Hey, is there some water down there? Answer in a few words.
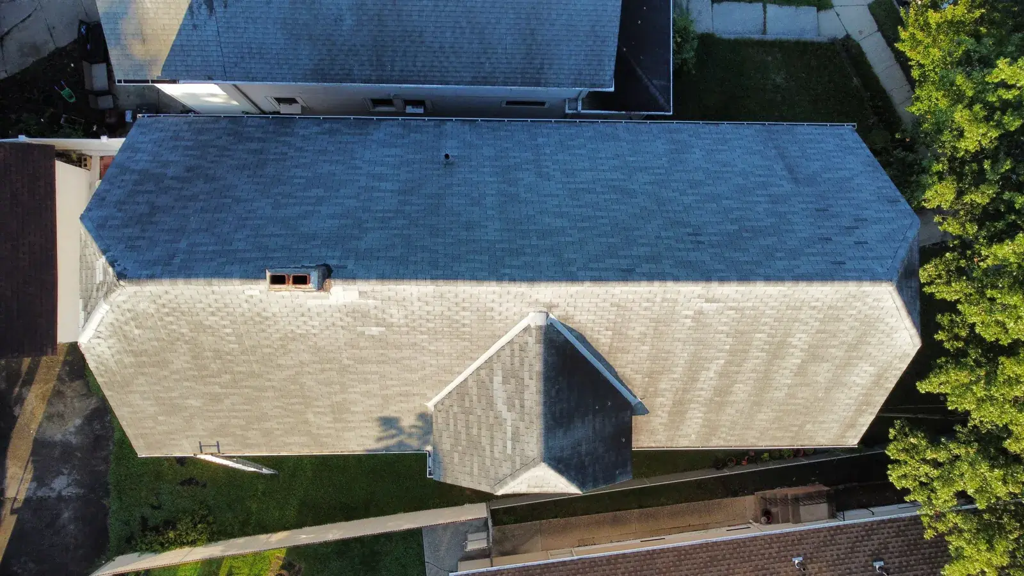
No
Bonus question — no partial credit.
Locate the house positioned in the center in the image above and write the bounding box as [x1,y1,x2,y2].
[75,114,923,497]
